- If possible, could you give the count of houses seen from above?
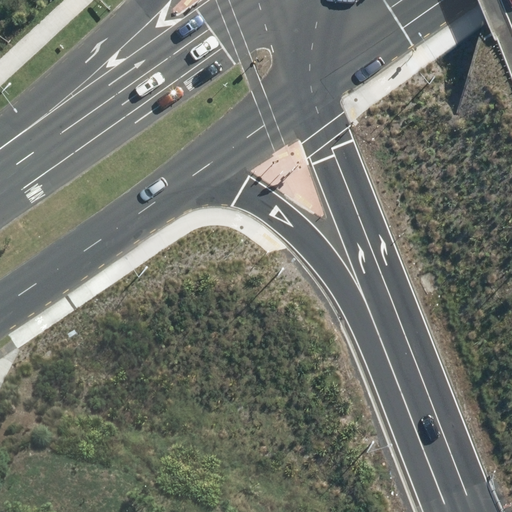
zero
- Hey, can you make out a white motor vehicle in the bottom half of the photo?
No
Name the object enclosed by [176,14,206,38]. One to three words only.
car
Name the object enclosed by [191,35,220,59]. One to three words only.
car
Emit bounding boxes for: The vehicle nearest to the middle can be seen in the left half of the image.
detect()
[140,178,167,201]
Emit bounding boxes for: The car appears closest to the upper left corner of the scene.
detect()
[134,72,164,96]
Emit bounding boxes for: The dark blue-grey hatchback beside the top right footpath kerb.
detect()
[354,57,384,82]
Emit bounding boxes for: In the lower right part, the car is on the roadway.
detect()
[422,414,440,442]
